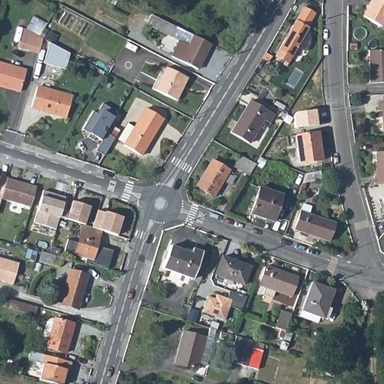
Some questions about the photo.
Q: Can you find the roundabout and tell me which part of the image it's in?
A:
center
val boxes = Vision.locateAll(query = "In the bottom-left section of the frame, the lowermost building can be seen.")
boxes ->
[28,352,72,384]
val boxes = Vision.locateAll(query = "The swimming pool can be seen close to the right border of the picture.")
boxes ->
[352,26,366,40]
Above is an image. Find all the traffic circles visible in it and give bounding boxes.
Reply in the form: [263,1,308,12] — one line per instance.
[120,162,202,244]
